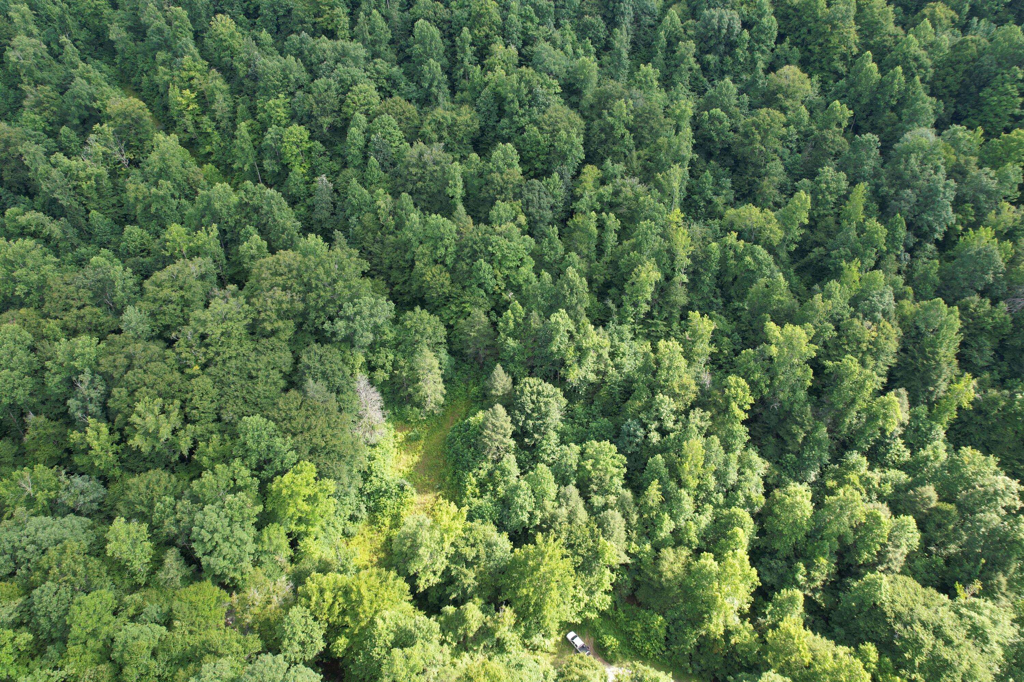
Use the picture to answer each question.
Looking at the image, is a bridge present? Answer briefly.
No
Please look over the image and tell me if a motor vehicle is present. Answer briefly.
Yes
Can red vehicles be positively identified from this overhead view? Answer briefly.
No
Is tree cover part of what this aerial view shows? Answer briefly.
Yes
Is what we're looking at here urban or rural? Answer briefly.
rural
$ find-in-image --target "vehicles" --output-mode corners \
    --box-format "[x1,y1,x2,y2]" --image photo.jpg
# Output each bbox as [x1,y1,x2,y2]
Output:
[565,630,591,659]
